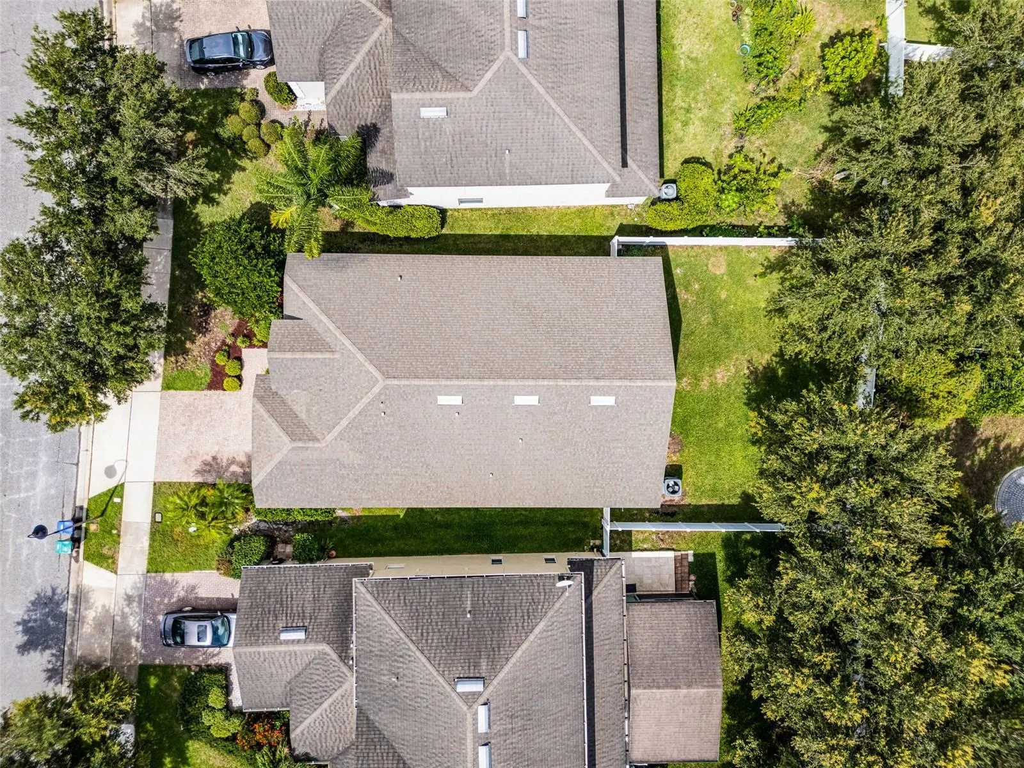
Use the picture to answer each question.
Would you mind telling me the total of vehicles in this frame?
two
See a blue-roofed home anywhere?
No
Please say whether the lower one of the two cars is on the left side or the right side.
left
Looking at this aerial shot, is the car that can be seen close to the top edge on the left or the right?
left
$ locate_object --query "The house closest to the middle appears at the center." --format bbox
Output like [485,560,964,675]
[251,254,676,508]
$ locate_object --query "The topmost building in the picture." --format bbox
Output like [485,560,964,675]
[267,0,660,207]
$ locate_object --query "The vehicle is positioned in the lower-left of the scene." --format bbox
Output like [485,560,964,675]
[161,608,238,652]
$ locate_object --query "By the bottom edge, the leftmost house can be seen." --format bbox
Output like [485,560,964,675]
[233,550,631,768]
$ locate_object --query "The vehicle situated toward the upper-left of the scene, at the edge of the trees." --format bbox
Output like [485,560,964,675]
[184,25,276,77]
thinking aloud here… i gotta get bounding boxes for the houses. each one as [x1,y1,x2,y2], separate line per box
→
[251,254,676,508]
[267,0,660,207]
[233,550,631,768]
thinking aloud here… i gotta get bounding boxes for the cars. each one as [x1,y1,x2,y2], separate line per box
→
[161,608,238,652]
[184,25,276,77]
